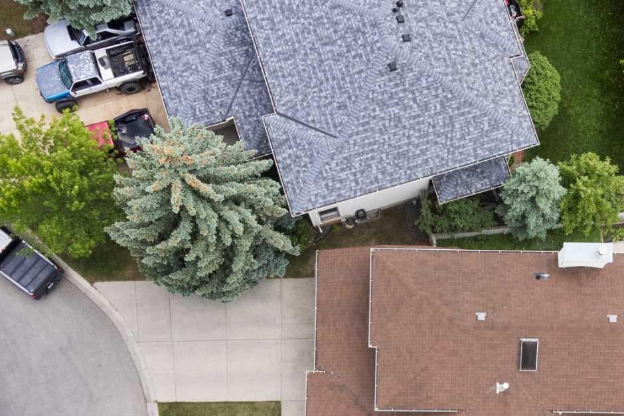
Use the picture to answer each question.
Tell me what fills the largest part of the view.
buildings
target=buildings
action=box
[303,242,624,416]
[134,0,540,243]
